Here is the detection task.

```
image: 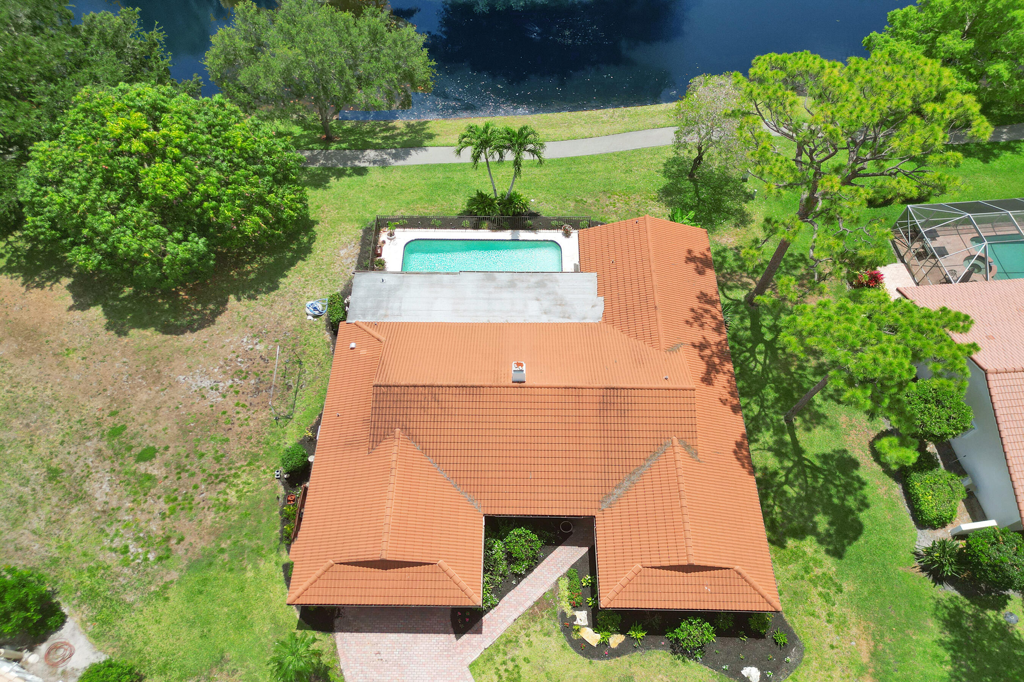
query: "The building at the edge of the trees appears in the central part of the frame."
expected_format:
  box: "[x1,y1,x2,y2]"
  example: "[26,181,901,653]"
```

[286,211,782,614]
